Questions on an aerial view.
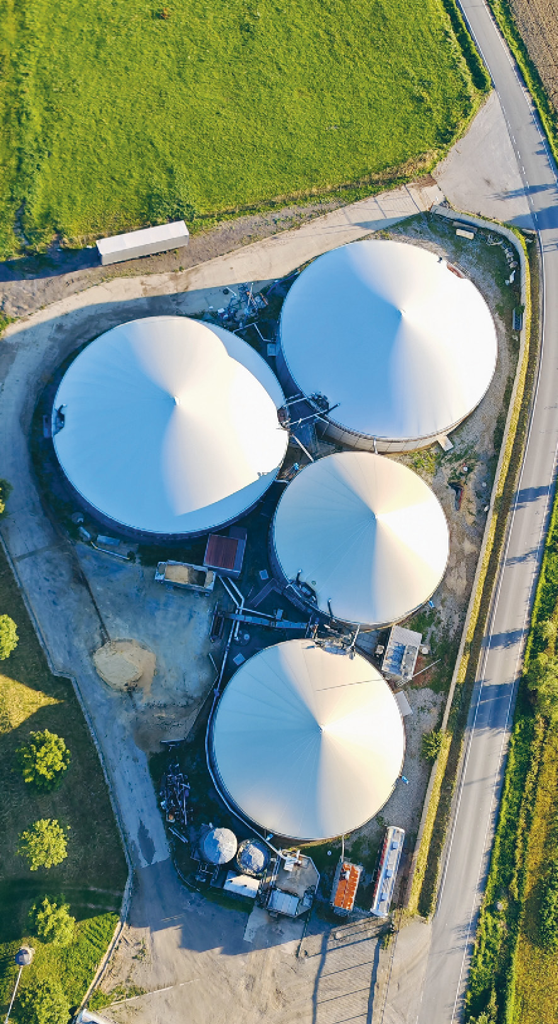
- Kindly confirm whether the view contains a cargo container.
Yes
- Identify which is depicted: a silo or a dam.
silo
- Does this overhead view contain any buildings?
Yes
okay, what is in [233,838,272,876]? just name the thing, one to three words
silo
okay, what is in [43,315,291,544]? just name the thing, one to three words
storage tank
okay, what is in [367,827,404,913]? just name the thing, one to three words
trailer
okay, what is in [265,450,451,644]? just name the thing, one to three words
storage tank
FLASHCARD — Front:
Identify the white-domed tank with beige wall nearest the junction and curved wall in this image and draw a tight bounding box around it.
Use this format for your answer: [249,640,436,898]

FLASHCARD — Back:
[265,238,499,454]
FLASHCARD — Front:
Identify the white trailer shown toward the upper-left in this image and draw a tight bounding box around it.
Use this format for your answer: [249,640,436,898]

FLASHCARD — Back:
[97,221,188,264]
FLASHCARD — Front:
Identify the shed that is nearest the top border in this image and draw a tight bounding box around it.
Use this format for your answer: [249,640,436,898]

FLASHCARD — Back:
[290,421,313,451]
